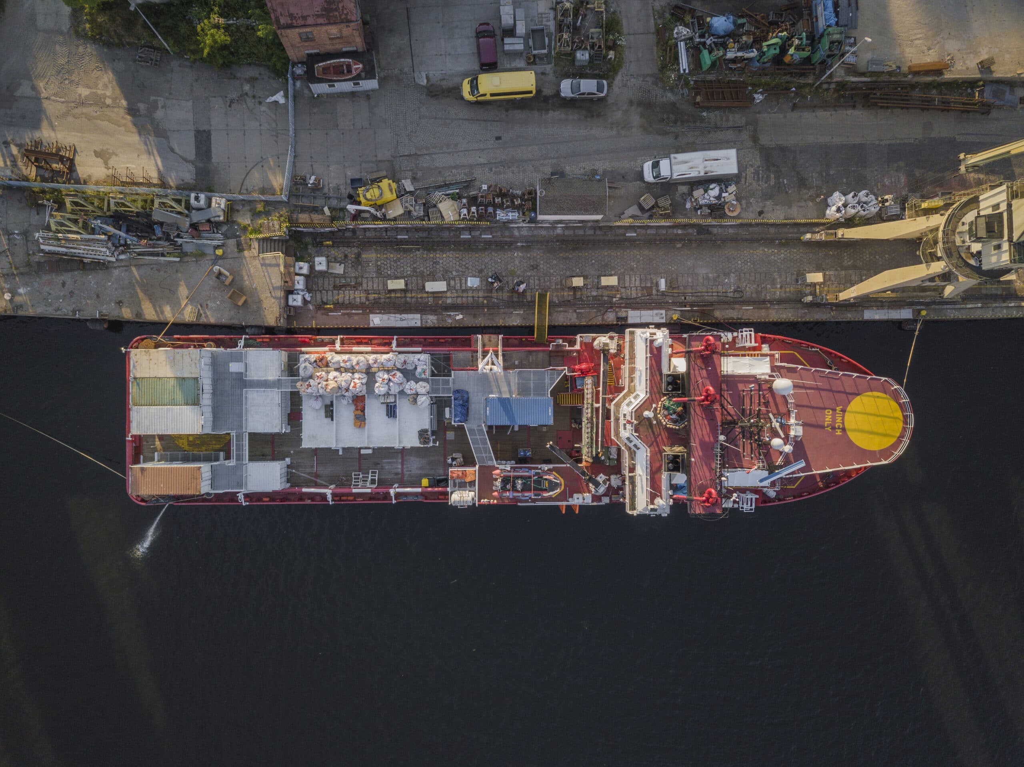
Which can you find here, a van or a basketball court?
van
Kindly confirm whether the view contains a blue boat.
No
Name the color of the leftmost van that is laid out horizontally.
yellow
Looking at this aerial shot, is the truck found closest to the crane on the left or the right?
right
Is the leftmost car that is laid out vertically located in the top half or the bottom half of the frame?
top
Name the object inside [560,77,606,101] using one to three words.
car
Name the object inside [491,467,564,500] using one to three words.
boat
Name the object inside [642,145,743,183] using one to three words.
truck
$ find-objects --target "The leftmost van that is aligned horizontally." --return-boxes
[463,70,535,102]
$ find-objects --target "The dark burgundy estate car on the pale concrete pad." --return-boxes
[476,25,497,71]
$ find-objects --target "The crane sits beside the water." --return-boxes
[800,133,1024,304]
